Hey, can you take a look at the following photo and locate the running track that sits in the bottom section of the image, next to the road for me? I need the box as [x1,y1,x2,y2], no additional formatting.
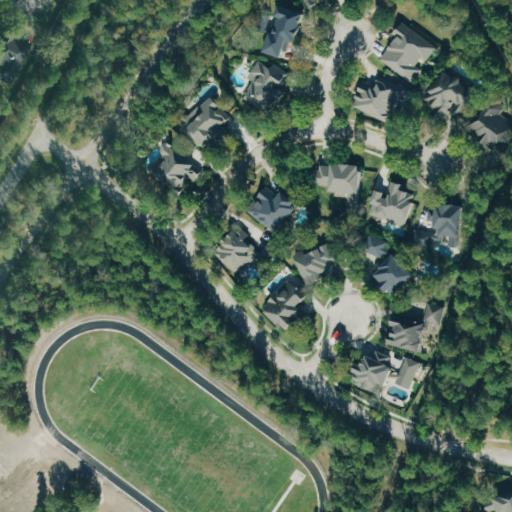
[32,317,330,512]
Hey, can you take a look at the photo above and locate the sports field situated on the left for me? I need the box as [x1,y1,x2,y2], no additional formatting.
[45,330,316,512]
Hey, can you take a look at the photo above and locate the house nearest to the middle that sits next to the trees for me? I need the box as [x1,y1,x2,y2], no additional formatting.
[215,225,255,276]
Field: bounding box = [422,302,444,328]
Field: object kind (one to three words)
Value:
building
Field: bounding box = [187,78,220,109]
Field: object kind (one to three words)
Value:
swimming pool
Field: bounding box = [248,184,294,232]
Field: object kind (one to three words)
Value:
house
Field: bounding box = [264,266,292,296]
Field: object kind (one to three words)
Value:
swimming pool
